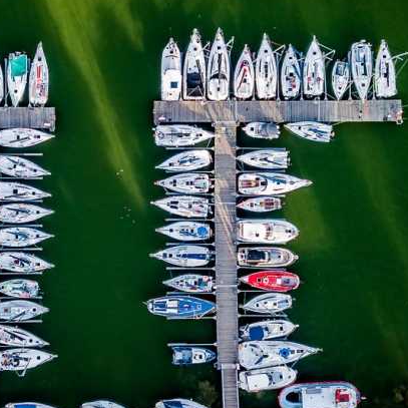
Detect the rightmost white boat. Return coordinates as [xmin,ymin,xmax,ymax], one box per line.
[372,39,407,102]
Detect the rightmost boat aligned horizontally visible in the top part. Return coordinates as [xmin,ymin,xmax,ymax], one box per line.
[283,122,338,142]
